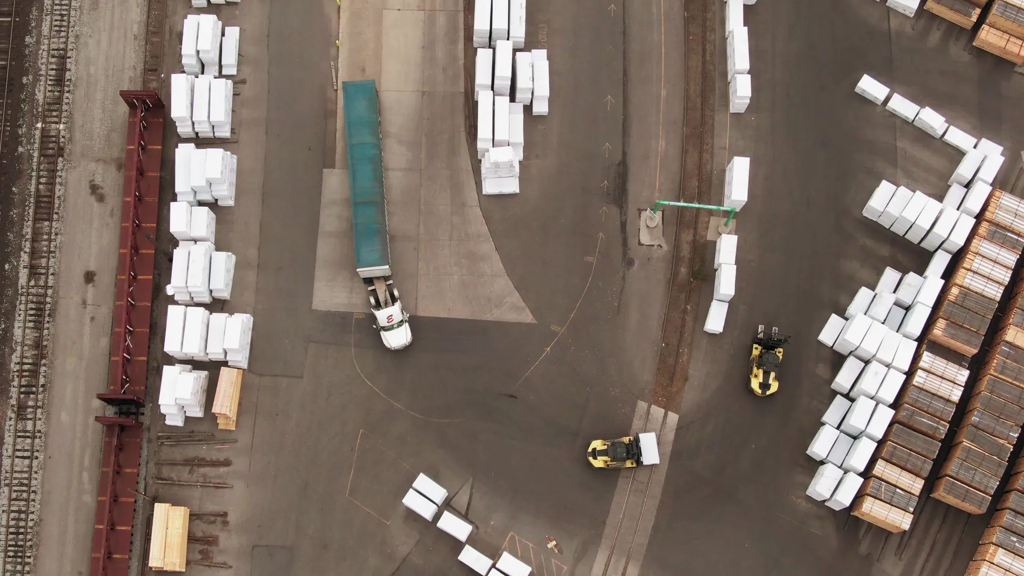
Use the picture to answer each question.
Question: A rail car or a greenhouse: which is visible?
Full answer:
The image shows a rail car.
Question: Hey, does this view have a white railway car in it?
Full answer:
No, the picture doesn't show any white railway car.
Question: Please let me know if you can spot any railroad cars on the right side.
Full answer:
No, no railroad car is visible on the right side.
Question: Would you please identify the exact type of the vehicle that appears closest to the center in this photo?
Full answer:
Looking closely, the vehicle that appears closest to the center is a truck.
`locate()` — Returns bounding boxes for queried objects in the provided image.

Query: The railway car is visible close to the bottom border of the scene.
[94,415,144,576]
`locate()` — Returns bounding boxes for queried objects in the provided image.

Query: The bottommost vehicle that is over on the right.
[586,432,645,468]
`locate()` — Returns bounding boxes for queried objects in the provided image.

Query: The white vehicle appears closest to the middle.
[360,276,412,355]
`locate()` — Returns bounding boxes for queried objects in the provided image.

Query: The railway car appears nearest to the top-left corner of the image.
[96,95,165,417]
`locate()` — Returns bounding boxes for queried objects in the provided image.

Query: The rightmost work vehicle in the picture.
[750,327,790,399]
